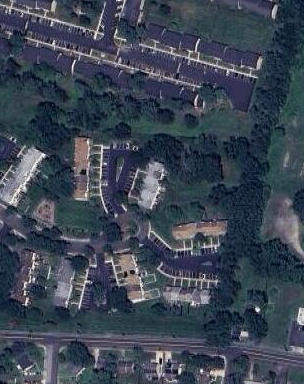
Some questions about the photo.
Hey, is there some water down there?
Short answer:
No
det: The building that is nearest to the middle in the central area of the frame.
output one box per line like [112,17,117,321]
[140,161,167,209]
